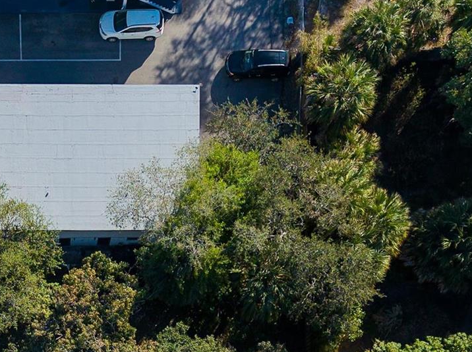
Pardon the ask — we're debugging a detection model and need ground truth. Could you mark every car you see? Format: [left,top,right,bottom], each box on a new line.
[98,6,164,42]
[222,44,292,80]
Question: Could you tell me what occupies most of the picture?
trees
